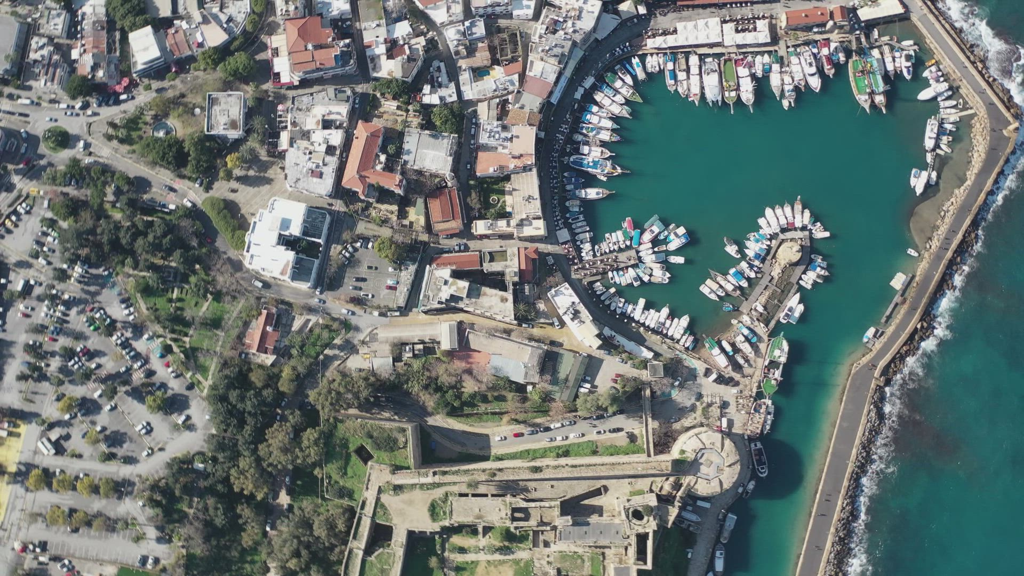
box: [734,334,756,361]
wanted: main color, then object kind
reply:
white boat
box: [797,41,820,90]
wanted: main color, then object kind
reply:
white boat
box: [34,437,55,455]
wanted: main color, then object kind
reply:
white vehicle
